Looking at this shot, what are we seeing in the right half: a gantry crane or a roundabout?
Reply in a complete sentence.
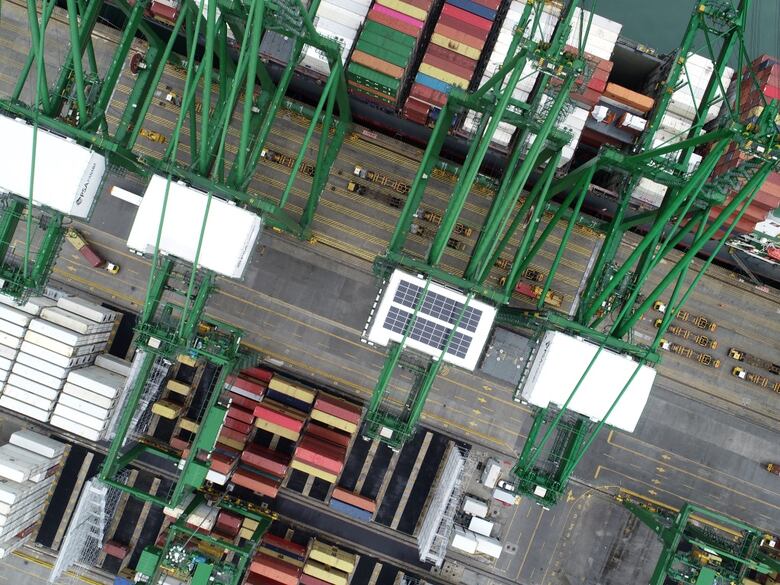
What appears in the right half is a gantry crane.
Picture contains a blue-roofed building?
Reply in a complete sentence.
No, there's no blue-roofed building here.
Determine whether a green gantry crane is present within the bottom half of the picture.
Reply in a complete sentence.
Yes, the scene does show a green gantry crane within the bottom half of the picture.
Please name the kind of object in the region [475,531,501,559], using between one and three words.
building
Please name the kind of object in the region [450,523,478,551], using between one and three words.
building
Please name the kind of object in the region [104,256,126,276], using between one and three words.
vehicle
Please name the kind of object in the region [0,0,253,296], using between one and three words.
container crane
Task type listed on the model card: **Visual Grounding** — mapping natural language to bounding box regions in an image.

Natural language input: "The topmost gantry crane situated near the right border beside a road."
[496,0,780,504]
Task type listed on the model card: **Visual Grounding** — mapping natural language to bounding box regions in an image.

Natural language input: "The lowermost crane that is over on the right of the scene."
[621,498,775,585]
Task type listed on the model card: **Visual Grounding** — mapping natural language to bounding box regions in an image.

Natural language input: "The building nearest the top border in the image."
[479,452,503,489]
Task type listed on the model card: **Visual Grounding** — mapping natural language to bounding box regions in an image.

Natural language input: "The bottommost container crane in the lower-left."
[137,484,283,585]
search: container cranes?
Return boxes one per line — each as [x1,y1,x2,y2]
[621,498,775,585]
[127,0,361,358]
[496,0,780,504]
[353,0,607,446]
[0,0,253,296]
[137,484,283,585]
[99,305,272,510]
